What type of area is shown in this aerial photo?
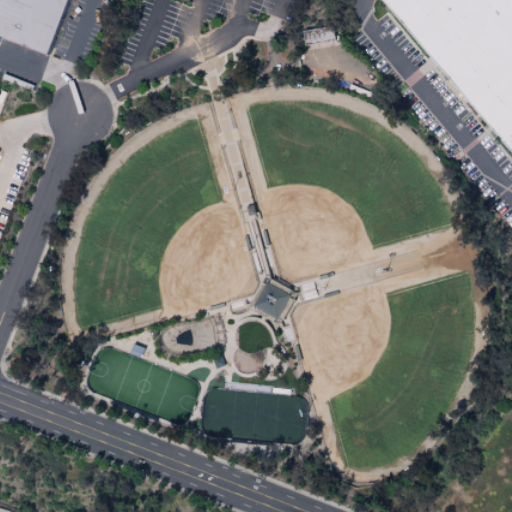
sports ground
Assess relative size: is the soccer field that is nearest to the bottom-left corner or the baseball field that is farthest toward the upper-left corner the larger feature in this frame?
the baseball field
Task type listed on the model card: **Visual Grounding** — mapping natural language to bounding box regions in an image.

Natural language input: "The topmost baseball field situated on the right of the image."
[247,100,452,281]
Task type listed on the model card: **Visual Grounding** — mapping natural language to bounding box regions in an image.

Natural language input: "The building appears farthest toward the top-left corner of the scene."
[0,0,73,56]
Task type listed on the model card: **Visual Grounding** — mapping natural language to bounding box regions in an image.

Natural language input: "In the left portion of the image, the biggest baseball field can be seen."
[74,119,259,328]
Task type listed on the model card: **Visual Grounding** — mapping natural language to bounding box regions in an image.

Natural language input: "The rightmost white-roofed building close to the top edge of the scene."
[382,0,512,150]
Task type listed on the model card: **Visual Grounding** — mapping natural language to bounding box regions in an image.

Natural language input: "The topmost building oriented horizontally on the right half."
[304,27,338,44]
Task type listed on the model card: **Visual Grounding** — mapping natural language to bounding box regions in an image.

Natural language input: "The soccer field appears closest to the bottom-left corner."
[87,346,199,426]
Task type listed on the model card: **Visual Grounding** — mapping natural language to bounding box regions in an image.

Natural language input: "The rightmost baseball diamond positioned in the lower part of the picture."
[298,271,475,470]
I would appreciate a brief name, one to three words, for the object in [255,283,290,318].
building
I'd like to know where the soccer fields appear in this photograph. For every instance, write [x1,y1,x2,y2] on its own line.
[202,389,308,444]
[87,346,199,426]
